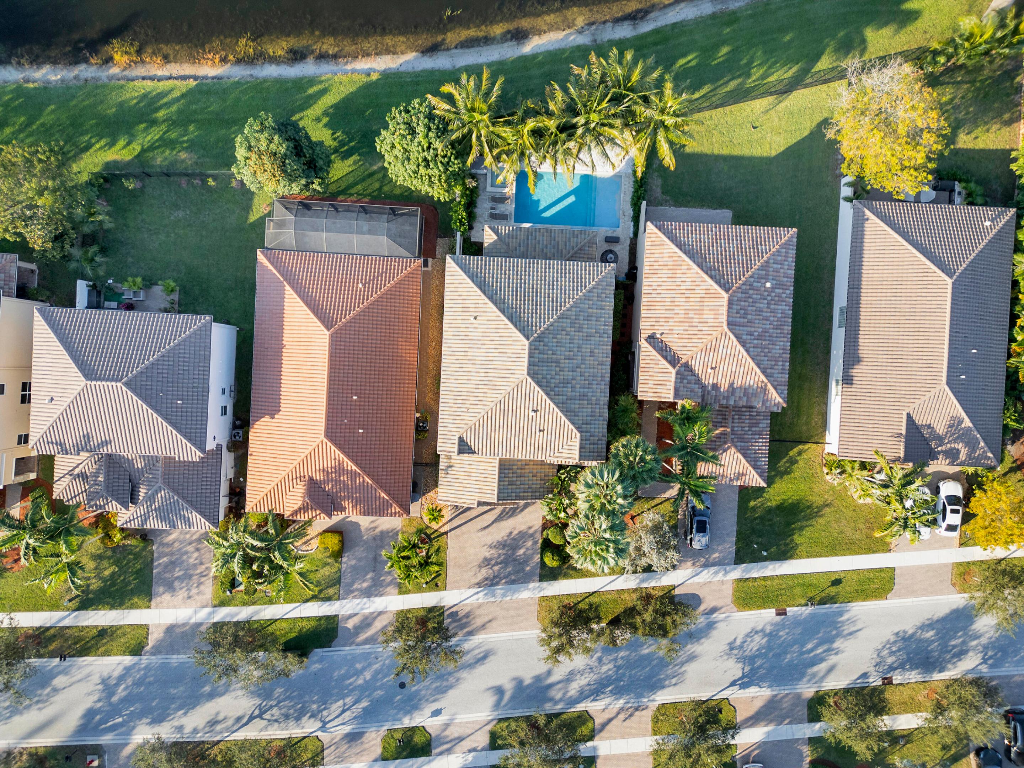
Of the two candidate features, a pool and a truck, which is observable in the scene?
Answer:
pool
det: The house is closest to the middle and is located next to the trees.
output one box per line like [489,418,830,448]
[437,224,617,508]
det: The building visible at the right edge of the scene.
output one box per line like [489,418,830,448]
[825,199,1019,470]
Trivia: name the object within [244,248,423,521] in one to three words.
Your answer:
house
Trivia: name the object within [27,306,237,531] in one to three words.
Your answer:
house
